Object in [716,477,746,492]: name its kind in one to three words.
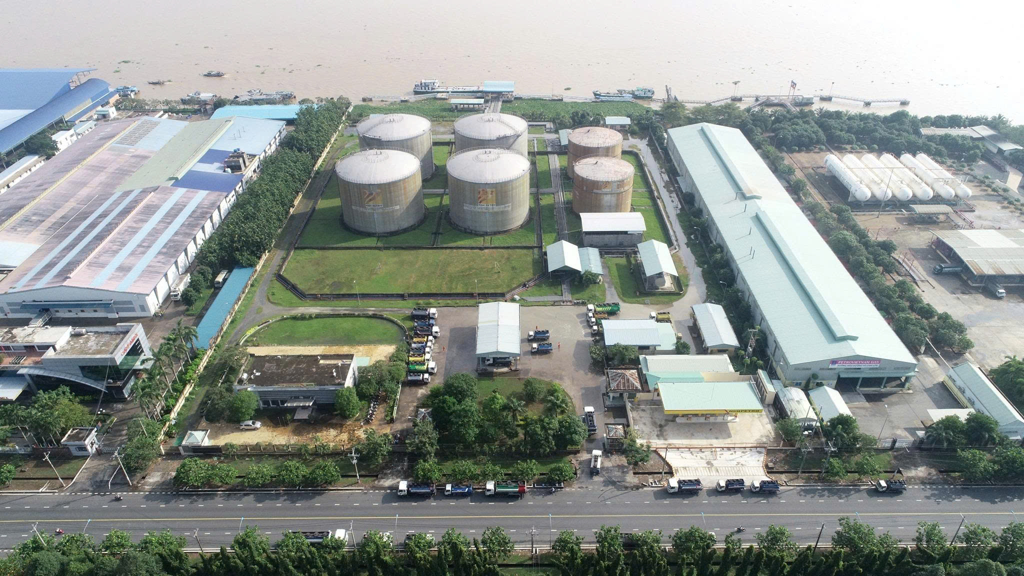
vehicle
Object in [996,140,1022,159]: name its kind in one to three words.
barn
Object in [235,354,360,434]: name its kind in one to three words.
building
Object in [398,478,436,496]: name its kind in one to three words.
vehicle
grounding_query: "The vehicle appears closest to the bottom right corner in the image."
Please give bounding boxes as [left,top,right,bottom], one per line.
[875,477,910,492]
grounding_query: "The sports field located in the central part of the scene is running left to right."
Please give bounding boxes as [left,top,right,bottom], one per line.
[285,249,542,295]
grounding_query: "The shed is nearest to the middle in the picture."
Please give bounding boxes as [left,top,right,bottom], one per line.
[546,242,582,283]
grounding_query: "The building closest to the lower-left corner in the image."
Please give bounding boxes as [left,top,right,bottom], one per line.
[60,427,98,455]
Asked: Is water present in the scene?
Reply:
Yes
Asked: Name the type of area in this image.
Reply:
industrial area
